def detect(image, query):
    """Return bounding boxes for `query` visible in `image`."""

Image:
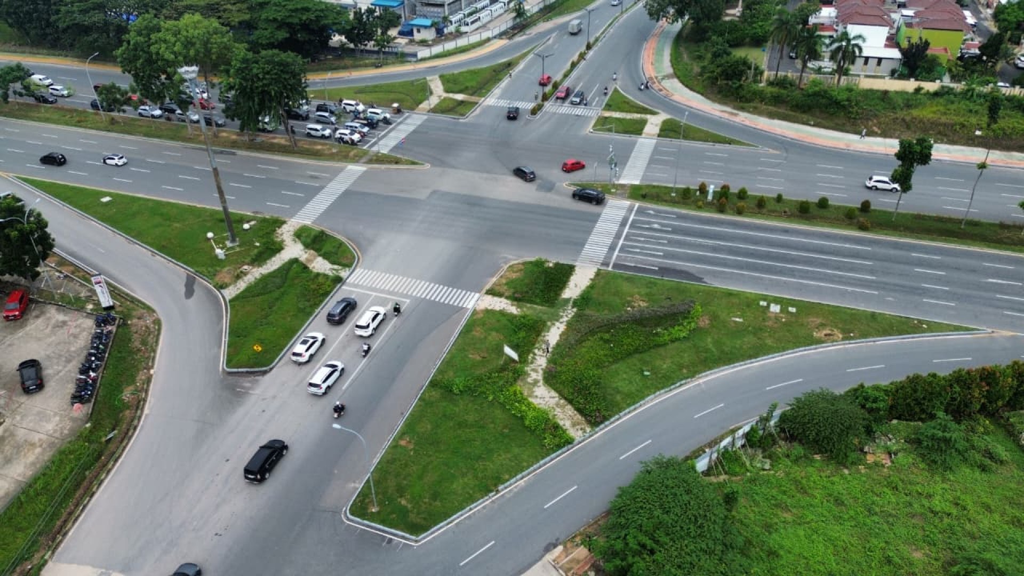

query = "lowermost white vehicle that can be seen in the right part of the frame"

[863,176,900,193]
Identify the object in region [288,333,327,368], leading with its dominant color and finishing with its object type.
white car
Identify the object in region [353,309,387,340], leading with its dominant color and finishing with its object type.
white car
